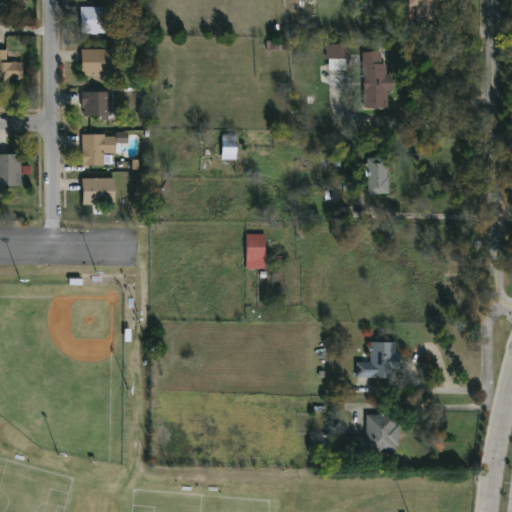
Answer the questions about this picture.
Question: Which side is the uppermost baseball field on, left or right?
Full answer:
It is on the left.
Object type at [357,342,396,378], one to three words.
house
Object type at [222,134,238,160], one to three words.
shed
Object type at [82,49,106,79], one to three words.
house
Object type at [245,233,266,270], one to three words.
barn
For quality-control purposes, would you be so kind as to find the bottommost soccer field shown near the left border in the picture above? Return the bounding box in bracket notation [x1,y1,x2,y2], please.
[0,458,73,512]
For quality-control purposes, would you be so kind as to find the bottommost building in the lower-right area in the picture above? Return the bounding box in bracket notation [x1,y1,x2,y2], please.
[366,415,400,453]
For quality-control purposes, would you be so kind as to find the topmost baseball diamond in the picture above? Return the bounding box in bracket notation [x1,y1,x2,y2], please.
[0,284,124,464]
